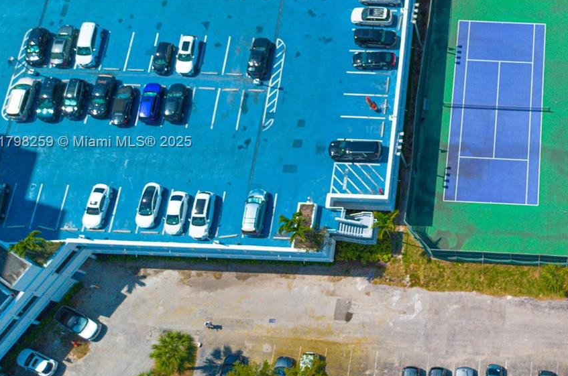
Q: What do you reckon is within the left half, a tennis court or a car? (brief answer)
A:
car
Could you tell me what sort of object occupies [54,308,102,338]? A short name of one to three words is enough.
car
